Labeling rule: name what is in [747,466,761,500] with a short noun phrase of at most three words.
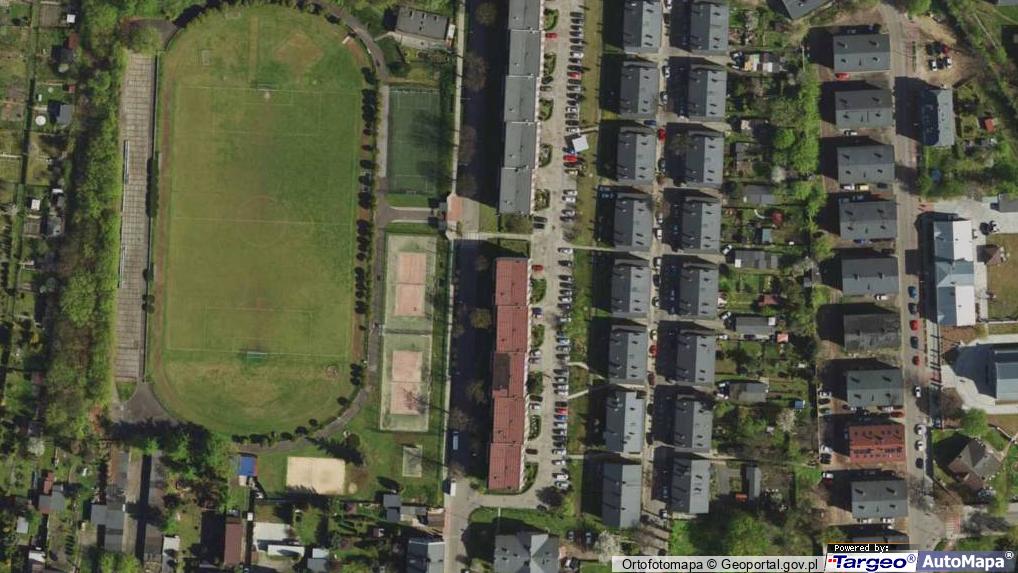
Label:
shed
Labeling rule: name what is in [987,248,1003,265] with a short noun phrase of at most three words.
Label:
gazebo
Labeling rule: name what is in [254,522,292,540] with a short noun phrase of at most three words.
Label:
building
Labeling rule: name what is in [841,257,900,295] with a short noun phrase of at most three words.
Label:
house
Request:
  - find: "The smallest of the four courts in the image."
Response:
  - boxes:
[402,444,423,478]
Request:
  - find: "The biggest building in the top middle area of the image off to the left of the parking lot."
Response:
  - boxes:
[395,7,448,40]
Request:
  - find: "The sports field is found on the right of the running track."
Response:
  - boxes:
[386,88,439,194]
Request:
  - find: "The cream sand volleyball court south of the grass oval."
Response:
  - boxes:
[286,458,344,495]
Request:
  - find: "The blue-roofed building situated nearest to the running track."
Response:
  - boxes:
[241,456,257,477]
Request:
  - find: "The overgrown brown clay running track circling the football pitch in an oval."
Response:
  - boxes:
[152,8,371,430]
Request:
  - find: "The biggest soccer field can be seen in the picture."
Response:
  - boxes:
[148,3,362,434]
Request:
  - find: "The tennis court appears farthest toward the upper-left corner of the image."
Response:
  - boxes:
[384,235,437,331]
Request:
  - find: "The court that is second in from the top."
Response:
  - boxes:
[379,335,431,431]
